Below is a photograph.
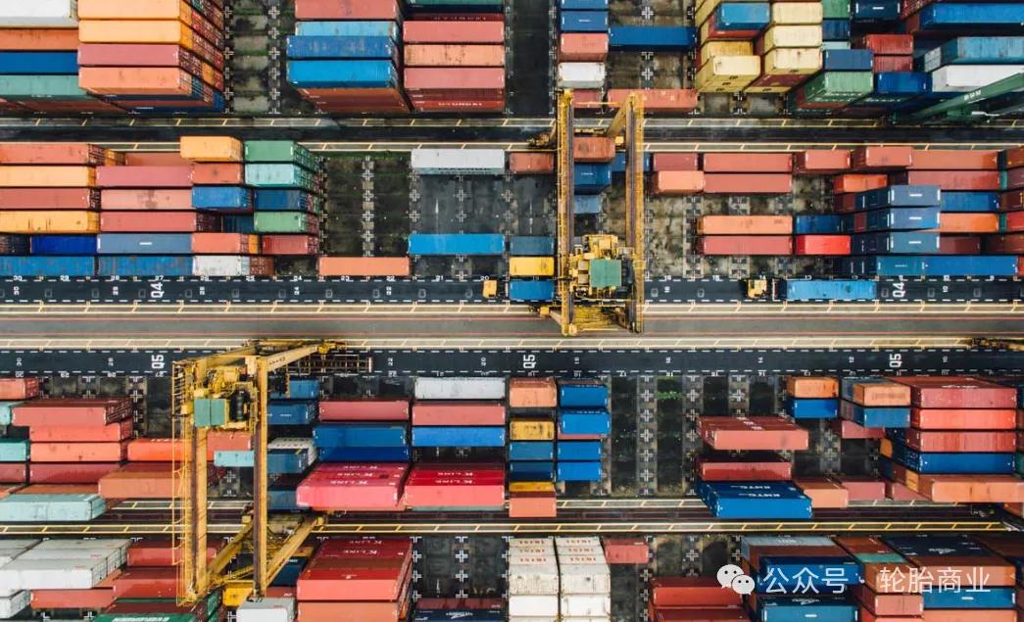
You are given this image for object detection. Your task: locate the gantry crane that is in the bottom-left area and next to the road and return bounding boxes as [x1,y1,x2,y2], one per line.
[179,344,343,596]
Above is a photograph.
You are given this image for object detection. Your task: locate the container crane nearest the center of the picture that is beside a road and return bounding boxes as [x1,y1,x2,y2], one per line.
[524,94,642,331]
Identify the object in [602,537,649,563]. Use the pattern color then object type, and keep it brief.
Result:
red shipping container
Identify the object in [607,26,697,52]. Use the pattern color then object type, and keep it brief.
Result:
blue shipping container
